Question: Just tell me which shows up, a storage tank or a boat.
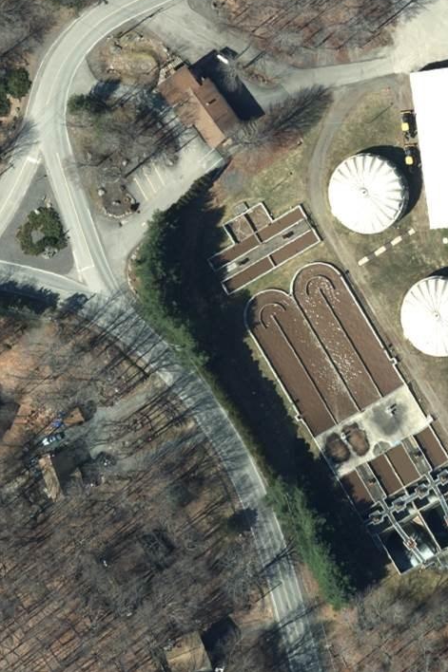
storage tank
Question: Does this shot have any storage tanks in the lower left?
No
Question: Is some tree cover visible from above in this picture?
Yes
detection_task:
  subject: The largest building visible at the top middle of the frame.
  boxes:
[159,60,244,147]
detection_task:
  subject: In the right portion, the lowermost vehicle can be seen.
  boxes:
[402,138,416,165]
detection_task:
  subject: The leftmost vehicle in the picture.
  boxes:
[25,450,42,470]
